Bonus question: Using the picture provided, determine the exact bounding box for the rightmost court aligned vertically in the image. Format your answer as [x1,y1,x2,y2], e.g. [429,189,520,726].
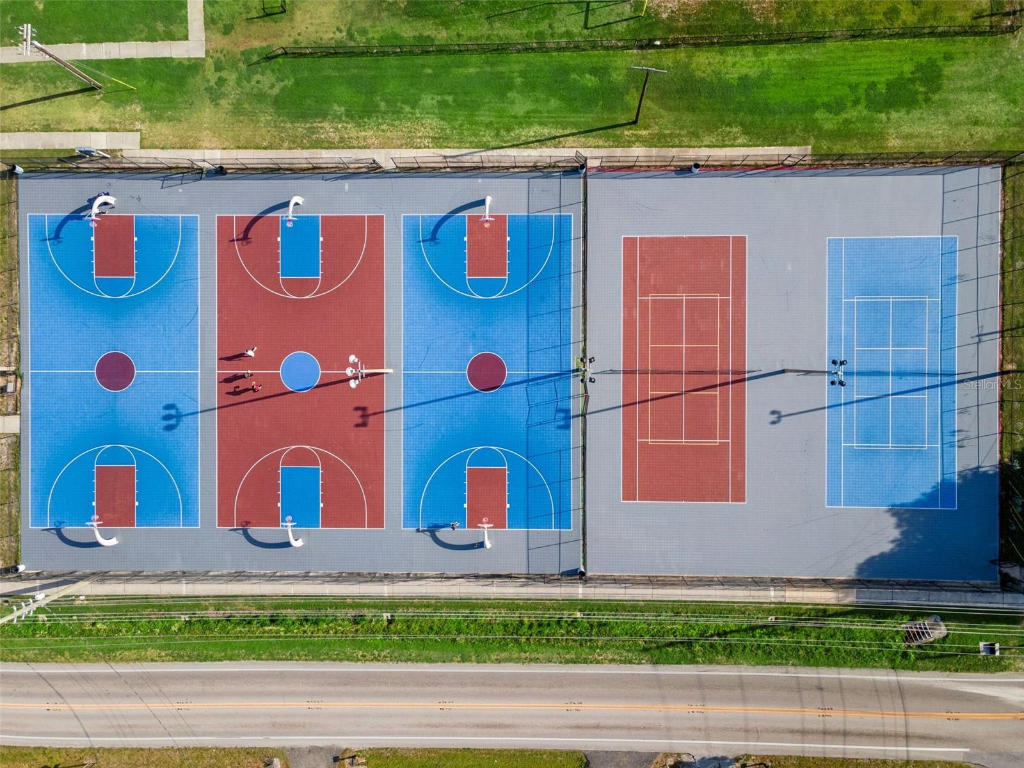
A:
[826,235,959,510]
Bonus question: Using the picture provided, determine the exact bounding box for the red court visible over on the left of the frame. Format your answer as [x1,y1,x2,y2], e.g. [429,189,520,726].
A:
[216,214,385,529]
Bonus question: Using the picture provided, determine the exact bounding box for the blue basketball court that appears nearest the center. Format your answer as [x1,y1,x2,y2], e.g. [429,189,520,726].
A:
[402,214,573,530]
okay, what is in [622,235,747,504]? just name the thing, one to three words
tennis court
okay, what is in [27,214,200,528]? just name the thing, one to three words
basketball court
